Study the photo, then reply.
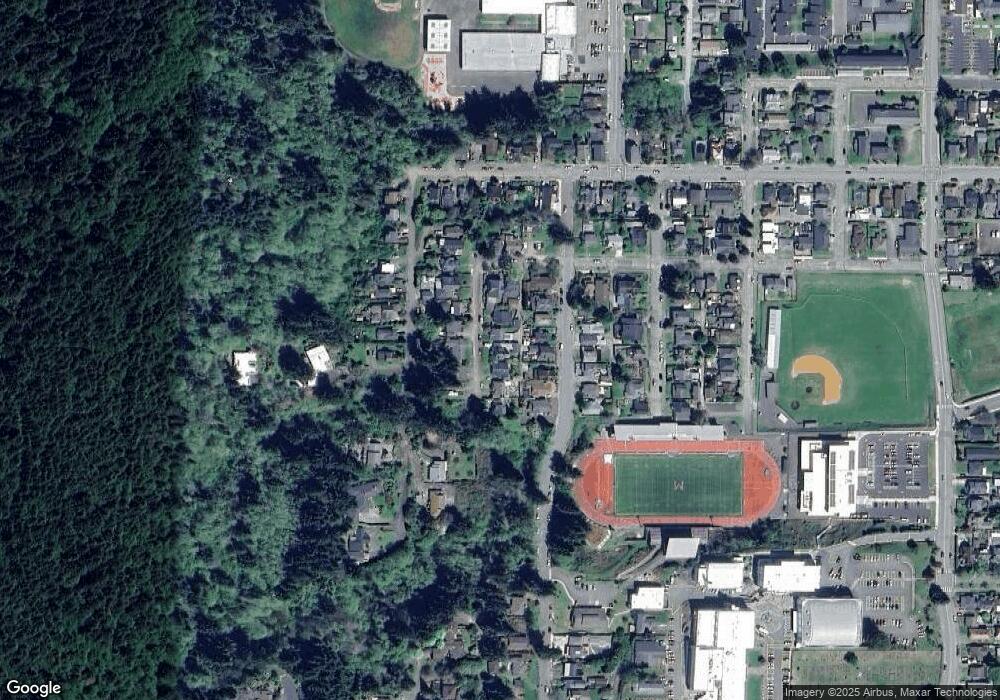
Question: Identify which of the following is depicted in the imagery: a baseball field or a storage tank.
baseball field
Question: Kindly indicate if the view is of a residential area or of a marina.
residential area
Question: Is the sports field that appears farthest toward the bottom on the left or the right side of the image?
right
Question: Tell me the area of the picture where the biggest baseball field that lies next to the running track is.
right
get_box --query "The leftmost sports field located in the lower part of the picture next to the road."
[614,450,744,517]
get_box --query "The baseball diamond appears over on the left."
[323,0,423,67]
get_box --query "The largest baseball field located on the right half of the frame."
[758,272,936,430]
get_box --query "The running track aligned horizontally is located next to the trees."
[575,438,781,528]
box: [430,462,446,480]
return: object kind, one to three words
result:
house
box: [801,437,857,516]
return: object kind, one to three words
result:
building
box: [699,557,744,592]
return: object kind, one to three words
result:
building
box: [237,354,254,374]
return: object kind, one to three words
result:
house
